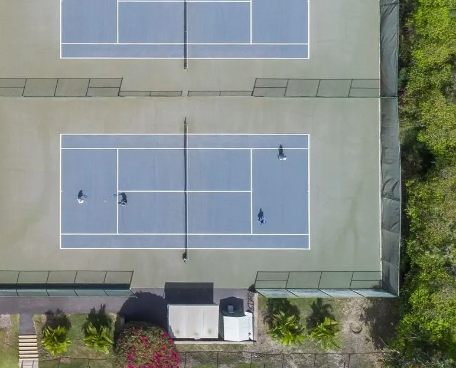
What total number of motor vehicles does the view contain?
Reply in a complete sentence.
The count of motor vehicles is 0.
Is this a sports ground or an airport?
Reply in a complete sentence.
The picture captures a sports ground.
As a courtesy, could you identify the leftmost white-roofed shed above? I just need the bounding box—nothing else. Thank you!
[164,300,219,339]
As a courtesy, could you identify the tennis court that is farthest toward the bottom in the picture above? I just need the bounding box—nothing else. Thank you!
[0,97,382,289]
